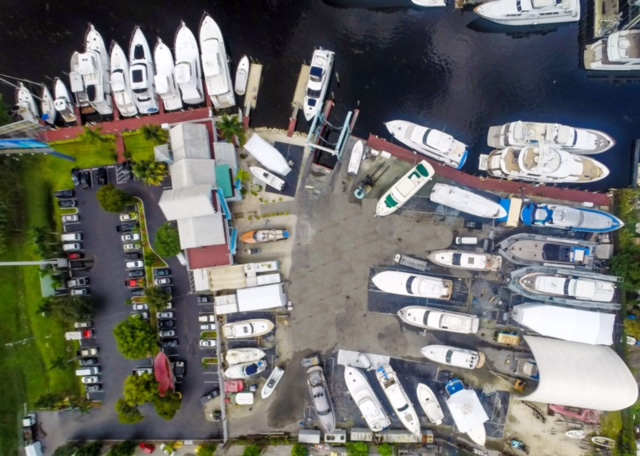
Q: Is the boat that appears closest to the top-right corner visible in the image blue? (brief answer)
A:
No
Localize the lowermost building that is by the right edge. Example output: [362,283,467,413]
[518,335,638,412]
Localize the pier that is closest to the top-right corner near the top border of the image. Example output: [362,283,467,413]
[579,0,618,44]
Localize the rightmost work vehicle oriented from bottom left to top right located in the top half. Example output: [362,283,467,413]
[351,160,389,200]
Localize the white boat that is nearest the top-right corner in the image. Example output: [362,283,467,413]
[576,35,640,71]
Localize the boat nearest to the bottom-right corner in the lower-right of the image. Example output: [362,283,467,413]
[592,435,616,449]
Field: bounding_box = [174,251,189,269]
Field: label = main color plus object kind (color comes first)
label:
white vehicle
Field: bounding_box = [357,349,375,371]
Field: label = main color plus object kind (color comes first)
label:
white vehicle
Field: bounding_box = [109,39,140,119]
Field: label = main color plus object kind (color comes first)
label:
white boat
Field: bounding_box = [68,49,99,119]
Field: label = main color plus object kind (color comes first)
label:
white boat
